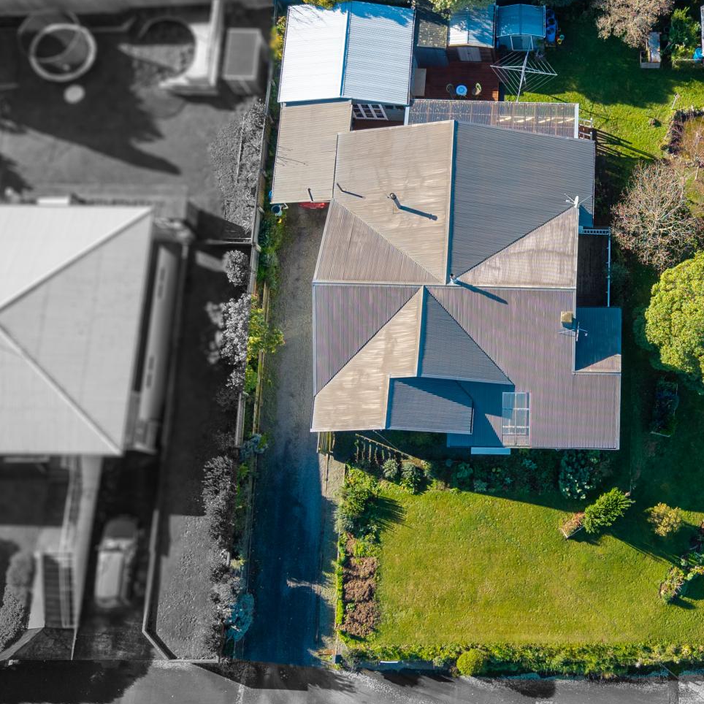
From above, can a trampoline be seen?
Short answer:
Yes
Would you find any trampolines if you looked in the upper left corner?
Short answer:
Yes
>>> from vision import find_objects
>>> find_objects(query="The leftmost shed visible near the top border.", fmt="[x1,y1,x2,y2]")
[225,30,272,88]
